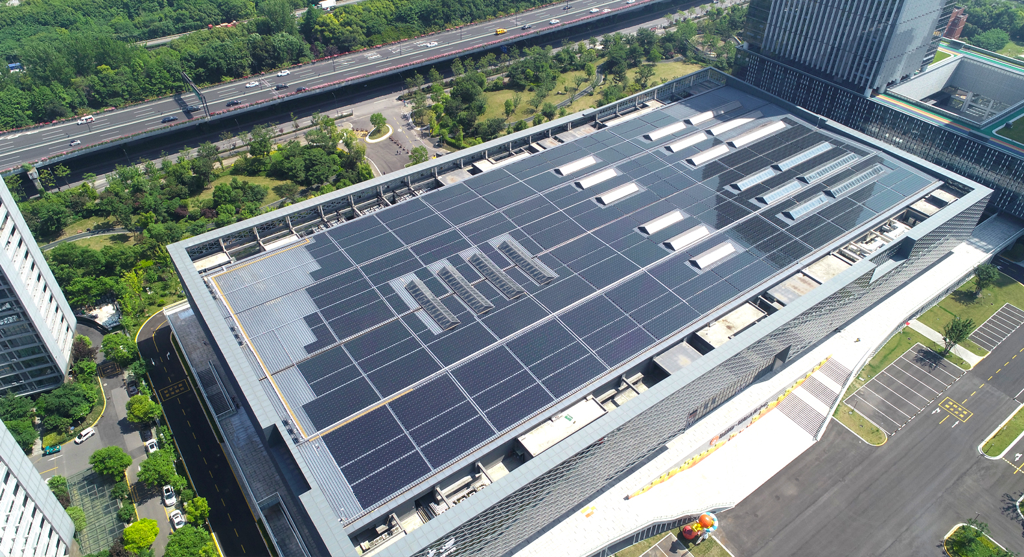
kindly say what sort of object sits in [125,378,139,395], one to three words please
car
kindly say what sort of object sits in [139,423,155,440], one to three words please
car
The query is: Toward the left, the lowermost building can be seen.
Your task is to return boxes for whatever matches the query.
[0,425,73,557]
